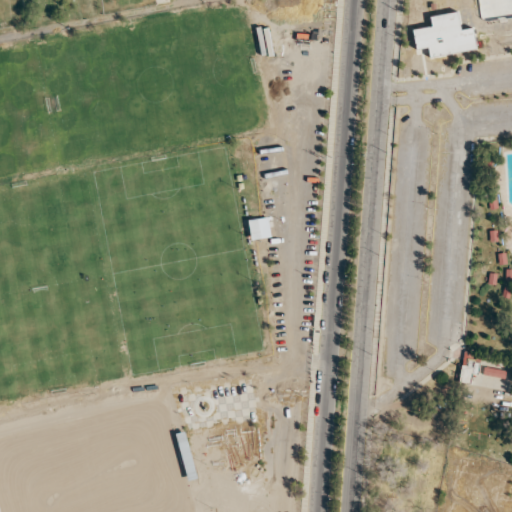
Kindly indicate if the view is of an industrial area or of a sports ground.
sports ground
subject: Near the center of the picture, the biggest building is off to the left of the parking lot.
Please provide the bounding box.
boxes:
[250,216,274,240]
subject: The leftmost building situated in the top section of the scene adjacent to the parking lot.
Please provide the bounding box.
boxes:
[414,11,478,58]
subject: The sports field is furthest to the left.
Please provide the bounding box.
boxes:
[0,169,131,398]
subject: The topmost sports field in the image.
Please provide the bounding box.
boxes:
[0,8,267,180]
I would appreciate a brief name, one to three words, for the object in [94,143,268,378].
soccer field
